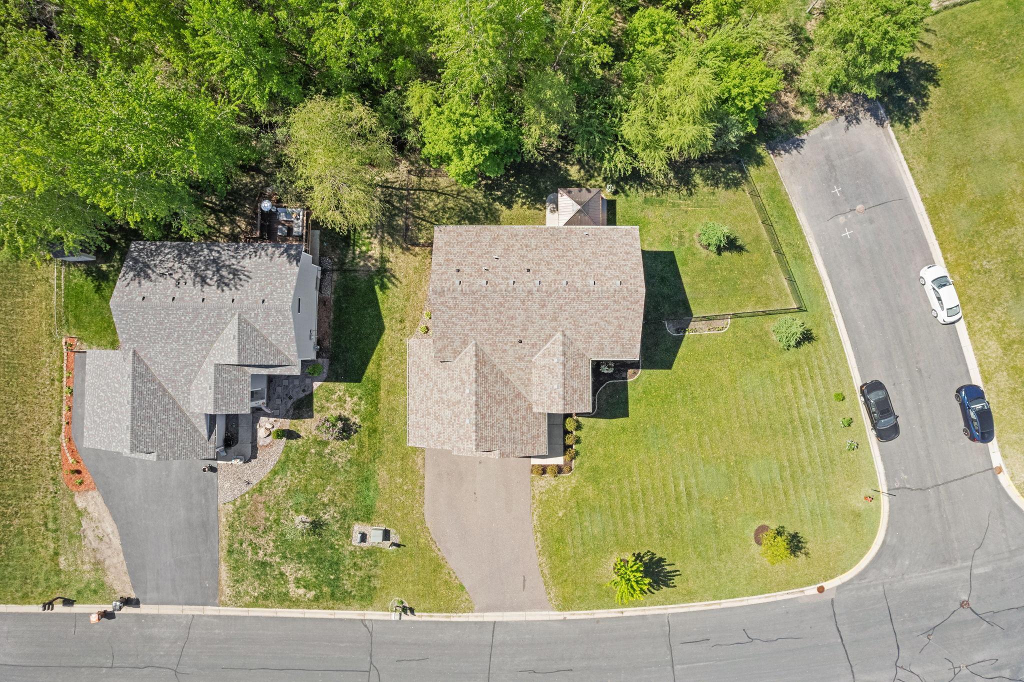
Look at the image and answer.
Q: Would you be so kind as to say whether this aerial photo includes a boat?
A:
No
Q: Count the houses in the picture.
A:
2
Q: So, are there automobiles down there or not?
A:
Yes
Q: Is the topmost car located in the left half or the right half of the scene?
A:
right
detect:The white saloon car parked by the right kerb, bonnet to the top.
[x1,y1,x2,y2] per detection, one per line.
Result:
[920,264,962,324]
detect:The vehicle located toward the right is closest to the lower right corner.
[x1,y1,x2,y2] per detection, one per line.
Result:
[956,383,996,444]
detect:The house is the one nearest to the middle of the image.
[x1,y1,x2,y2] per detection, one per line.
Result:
[406,224,645,459]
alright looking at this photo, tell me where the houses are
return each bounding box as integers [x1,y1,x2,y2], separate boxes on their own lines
[406,224,645,459]
[84,242,321,460]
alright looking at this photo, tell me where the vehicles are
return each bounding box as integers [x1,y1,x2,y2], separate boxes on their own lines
[956,383,996,444]
[861,381,900,442]
[920,264,962,324]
